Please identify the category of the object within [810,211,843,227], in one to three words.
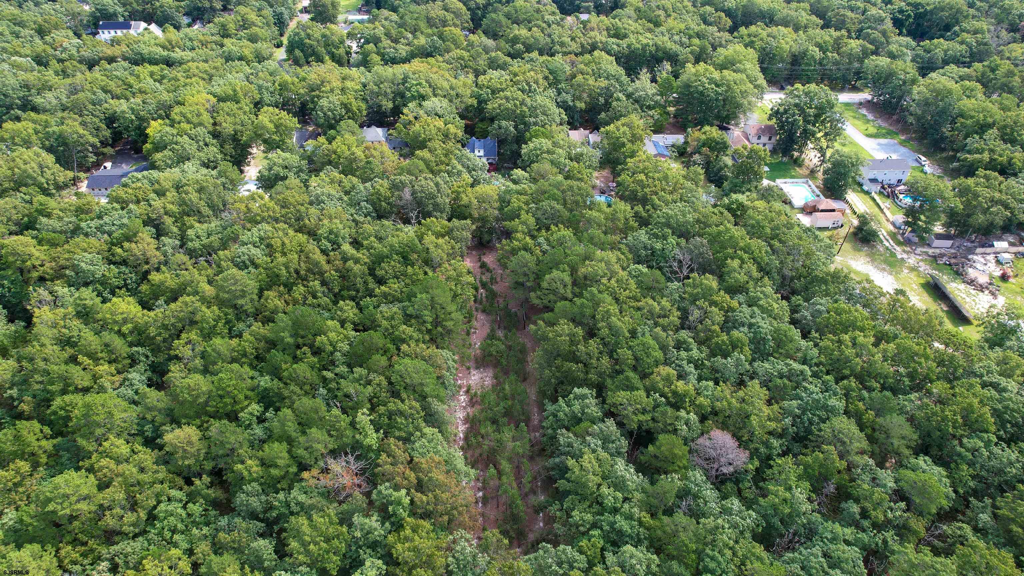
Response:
shed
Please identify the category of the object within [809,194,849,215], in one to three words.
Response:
building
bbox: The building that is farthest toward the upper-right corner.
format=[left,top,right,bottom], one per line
[855,153,913,192]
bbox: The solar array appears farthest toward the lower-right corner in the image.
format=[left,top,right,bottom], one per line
[926,274,987,327]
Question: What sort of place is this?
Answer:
forest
